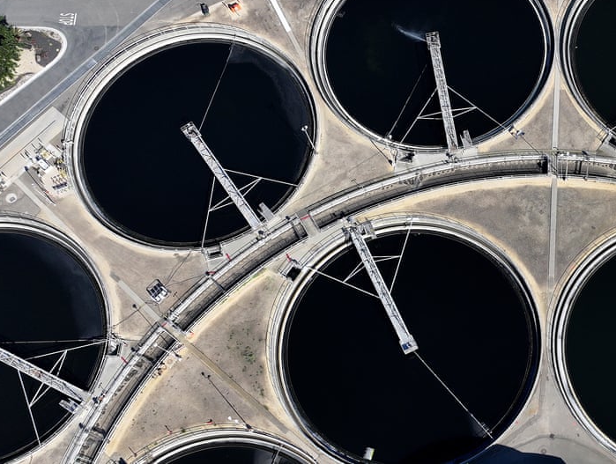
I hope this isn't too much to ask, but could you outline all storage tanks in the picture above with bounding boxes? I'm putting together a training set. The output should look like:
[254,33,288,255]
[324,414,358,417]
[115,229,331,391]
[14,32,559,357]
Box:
[128,427,323,464]
[0,210,115,464]
[557,0,616,140]
[264,211,546,464]
[59,20,320,253]
[305,0,557,155]
[547,229,616,464]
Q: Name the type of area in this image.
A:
industrial area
